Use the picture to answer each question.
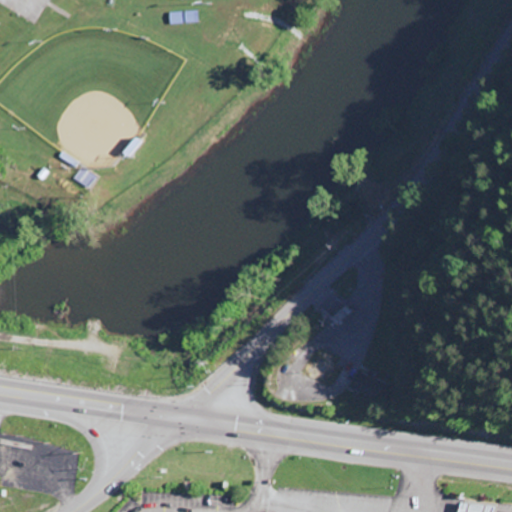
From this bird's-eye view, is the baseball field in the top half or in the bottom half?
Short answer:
top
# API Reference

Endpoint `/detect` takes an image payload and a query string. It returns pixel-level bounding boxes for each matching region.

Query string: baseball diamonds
[0,28,186,169]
